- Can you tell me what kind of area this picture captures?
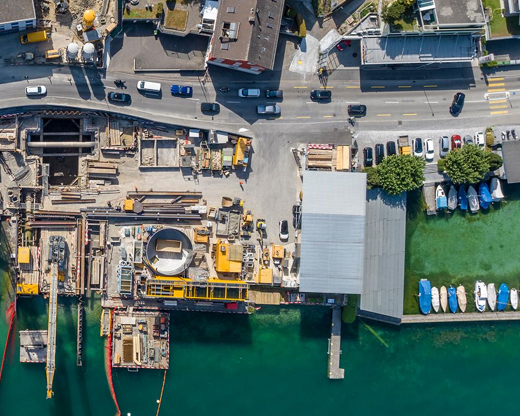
port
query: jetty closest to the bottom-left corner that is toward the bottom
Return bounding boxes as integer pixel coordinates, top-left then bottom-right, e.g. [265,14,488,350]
[19,330,48,361]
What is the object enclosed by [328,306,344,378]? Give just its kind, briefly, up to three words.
pier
